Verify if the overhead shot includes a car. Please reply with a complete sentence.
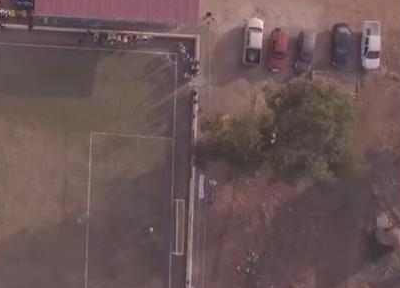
Yes, looking at the shot, I can spot a car.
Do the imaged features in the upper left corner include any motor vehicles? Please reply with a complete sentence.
No, no motor vehicle is visible in the upper left corner.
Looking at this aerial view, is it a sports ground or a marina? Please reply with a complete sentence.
This image shows a sports ground.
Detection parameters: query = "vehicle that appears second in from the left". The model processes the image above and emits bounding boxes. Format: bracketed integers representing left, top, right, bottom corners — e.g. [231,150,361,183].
[265,30,288,73]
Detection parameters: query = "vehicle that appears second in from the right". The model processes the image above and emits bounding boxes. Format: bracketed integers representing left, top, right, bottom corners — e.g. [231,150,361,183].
[328,23,353,69]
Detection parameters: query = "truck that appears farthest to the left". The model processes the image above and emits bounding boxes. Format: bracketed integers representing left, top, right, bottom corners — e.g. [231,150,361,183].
[240,19,264,69]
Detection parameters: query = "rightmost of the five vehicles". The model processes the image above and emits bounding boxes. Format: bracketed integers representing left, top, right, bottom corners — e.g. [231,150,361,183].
[357,20,383,72]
